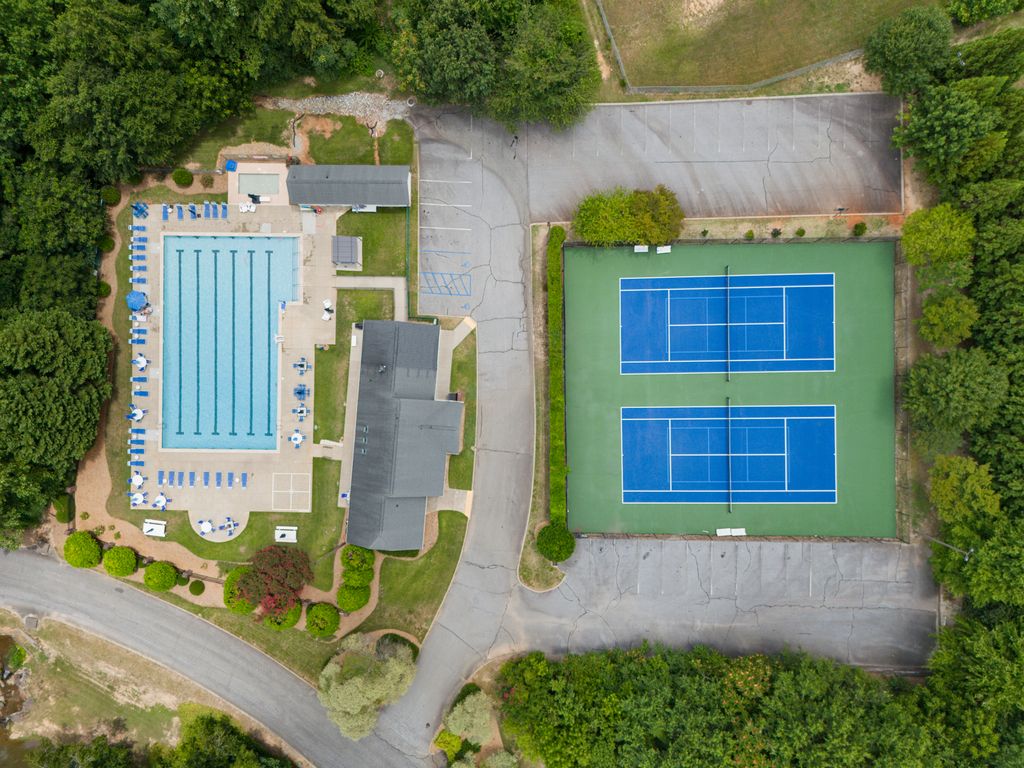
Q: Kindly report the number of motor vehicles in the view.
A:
0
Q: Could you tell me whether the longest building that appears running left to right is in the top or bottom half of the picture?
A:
top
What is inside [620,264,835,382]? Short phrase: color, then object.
blue tennis court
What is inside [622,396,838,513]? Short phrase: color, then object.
blue tennis court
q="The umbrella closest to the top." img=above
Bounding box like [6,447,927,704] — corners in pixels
[223,158,238,173]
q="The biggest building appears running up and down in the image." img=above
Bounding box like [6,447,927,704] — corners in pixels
[345,320,464,550]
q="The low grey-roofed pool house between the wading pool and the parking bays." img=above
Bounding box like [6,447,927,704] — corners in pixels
[286,165,412,207]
